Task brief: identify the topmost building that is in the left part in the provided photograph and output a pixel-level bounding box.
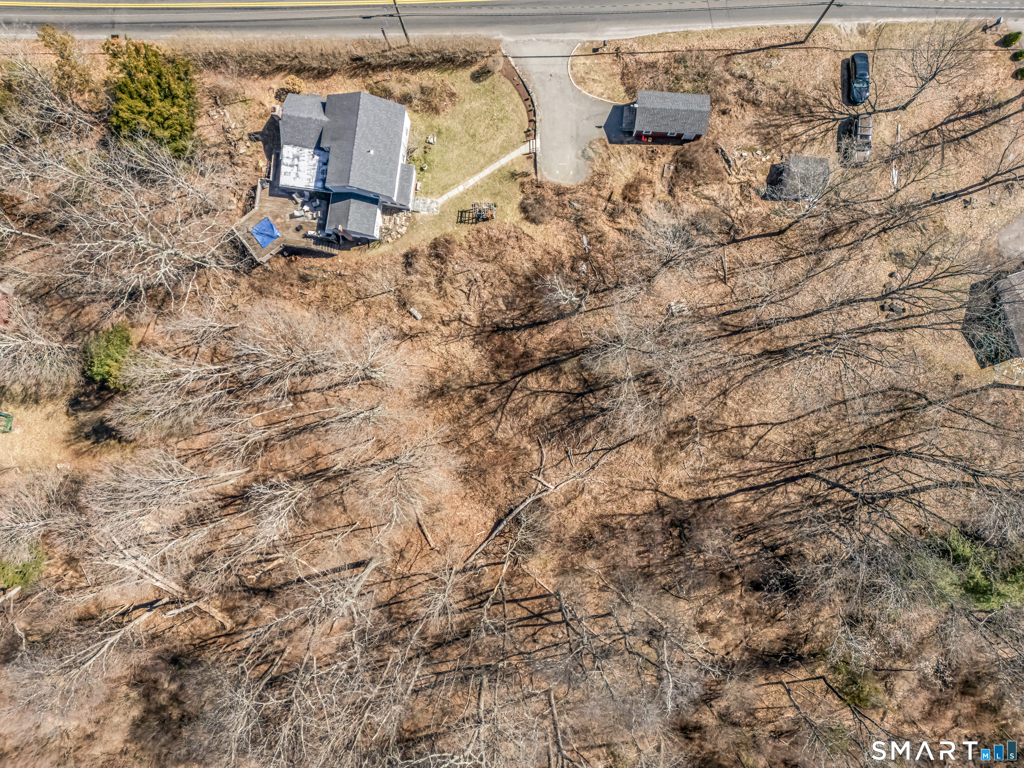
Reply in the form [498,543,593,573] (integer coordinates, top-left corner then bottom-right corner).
[270,89,417,243]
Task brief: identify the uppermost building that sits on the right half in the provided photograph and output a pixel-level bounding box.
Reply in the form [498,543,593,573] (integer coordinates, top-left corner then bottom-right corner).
[619,91,713,144]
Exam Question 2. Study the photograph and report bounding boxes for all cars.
[847,115,876,168]
[845,53,874,107]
